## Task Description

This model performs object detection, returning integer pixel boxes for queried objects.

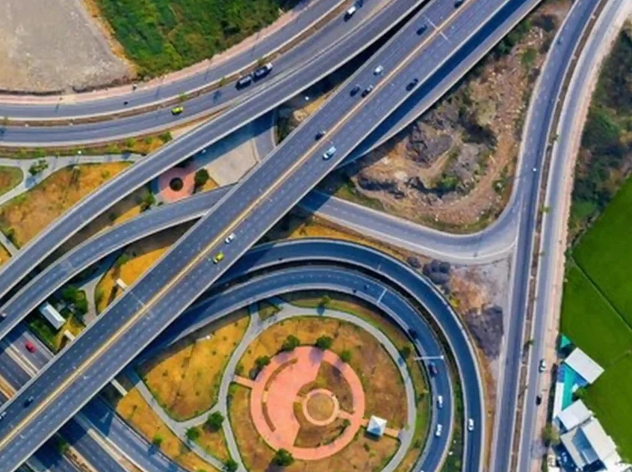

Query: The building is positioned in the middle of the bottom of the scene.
[365,415,386,437]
